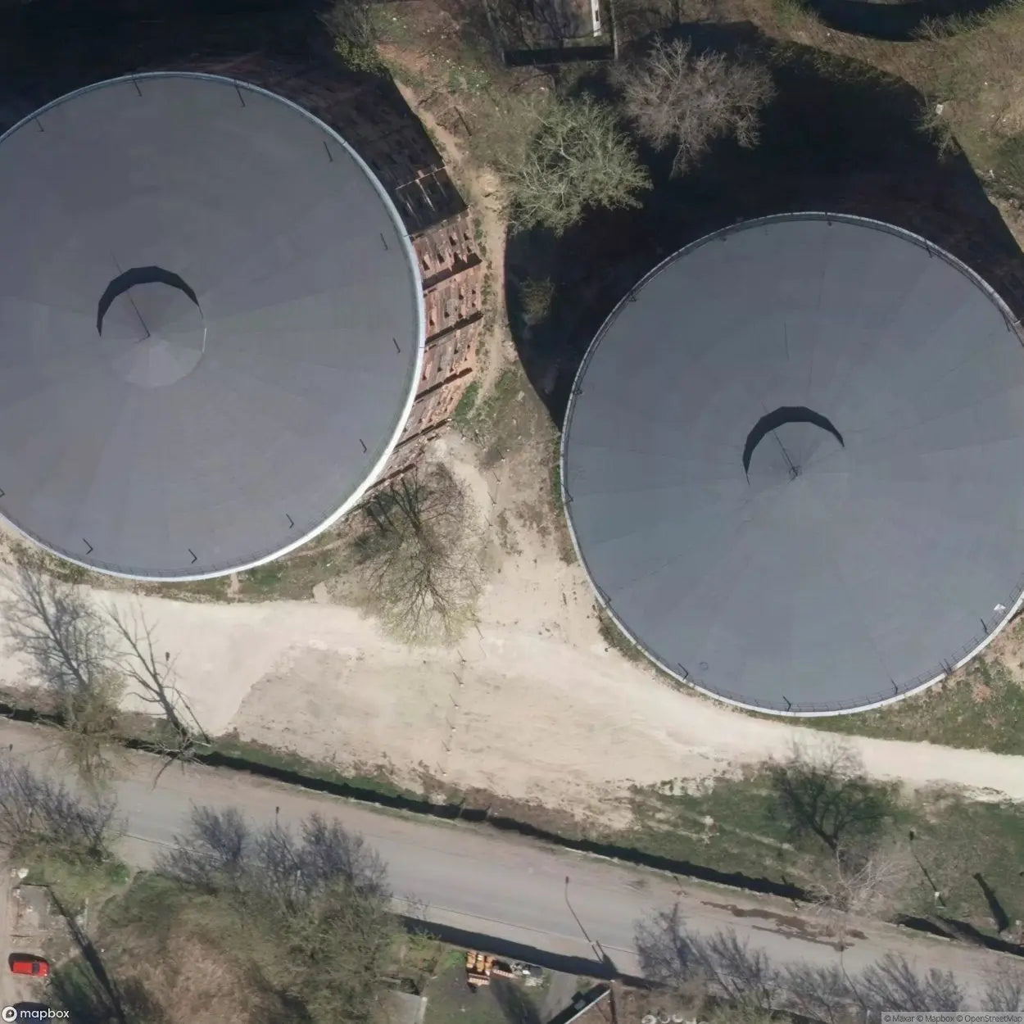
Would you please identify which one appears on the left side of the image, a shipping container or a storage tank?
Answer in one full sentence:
Visible on the left side of the image is a storage tank.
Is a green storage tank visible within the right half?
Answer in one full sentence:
No, there's no green storage tank to be seen within the right half.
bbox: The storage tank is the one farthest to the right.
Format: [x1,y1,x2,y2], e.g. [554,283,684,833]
[562,196,1024,714]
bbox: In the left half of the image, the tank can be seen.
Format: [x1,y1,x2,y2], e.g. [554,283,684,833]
[0,58,484,583]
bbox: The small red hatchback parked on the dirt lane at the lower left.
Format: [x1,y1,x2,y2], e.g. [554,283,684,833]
[12,958,51,977]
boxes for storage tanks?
[0,58,484,583]
[562,196,1024,714]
